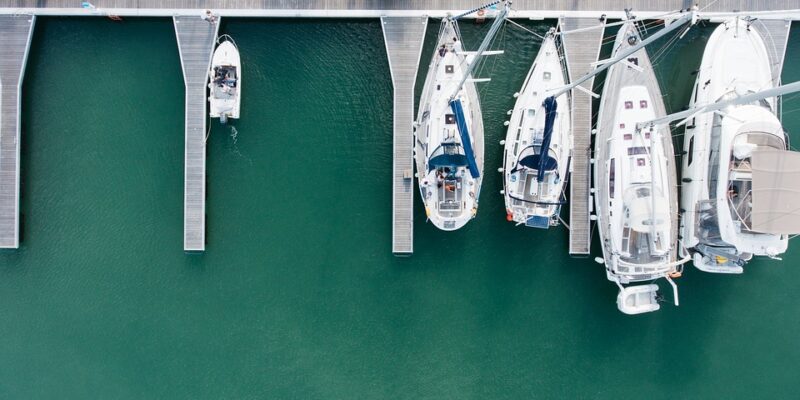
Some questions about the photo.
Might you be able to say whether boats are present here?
Yes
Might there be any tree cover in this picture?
No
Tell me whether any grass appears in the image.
No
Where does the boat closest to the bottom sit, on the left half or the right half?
right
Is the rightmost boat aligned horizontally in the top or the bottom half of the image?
bottom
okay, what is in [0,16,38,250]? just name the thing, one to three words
pier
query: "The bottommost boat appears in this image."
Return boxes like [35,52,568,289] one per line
[617,284,664,314]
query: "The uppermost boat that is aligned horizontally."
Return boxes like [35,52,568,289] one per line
[690,248,748,273]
